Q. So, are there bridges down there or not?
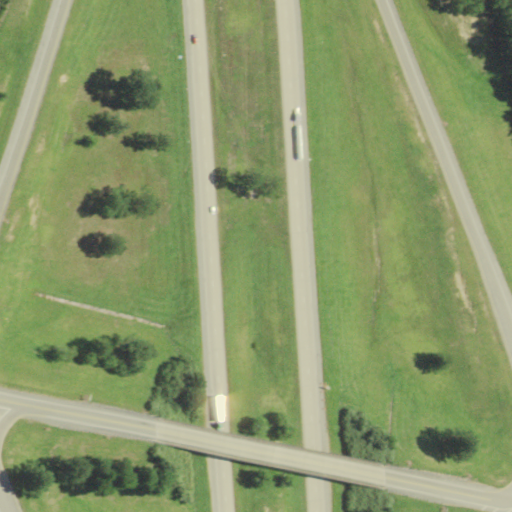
Yes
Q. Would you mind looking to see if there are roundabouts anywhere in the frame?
No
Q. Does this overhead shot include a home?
No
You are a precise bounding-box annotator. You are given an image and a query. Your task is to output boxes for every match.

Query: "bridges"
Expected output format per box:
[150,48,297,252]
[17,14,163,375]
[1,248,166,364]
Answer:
[154,420,386,489]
